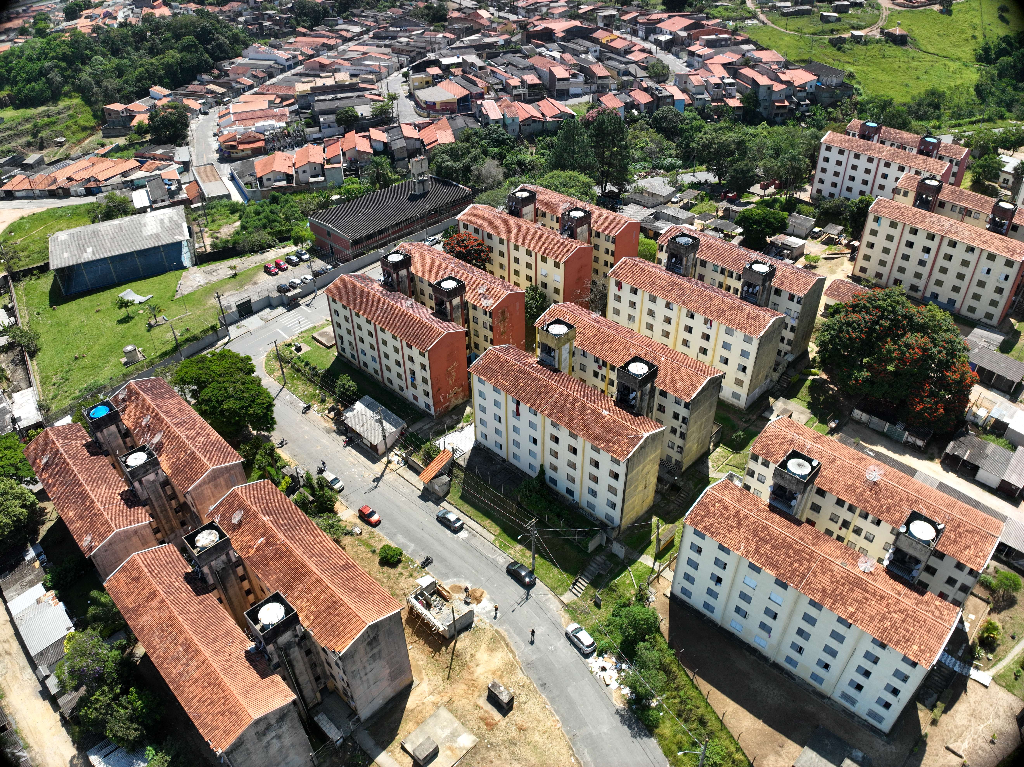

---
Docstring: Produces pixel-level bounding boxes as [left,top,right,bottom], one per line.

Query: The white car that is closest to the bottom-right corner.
[565,622,597,653]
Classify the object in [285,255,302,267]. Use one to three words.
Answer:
vehicle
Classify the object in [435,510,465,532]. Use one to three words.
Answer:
car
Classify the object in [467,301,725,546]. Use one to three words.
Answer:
building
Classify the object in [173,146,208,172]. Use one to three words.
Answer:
house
